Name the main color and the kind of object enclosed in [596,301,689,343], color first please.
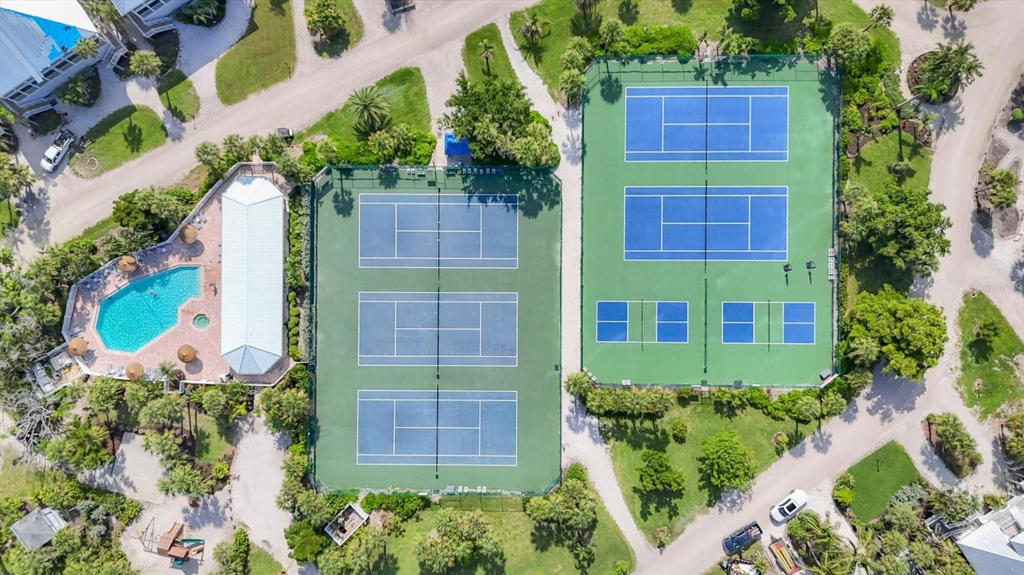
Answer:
blue sports court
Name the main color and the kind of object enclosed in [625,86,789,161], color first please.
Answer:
blue tennis court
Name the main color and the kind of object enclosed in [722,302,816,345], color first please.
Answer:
blue sports court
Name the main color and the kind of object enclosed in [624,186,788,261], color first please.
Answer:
blue tennis court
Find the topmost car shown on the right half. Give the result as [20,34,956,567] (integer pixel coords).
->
[766,488,808,519]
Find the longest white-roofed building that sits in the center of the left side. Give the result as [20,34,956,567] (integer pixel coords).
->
[220,177,289,374]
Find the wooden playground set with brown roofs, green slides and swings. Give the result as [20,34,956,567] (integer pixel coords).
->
[138,518,205,569]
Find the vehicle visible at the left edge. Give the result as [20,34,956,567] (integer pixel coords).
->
[43,130,80,172]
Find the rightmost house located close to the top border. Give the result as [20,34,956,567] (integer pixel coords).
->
[112,0,189,40]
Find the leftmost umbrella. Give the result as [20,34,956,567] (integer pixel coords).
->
[70,338,88,356]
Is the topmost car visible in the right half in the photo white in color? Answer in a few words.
Yes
